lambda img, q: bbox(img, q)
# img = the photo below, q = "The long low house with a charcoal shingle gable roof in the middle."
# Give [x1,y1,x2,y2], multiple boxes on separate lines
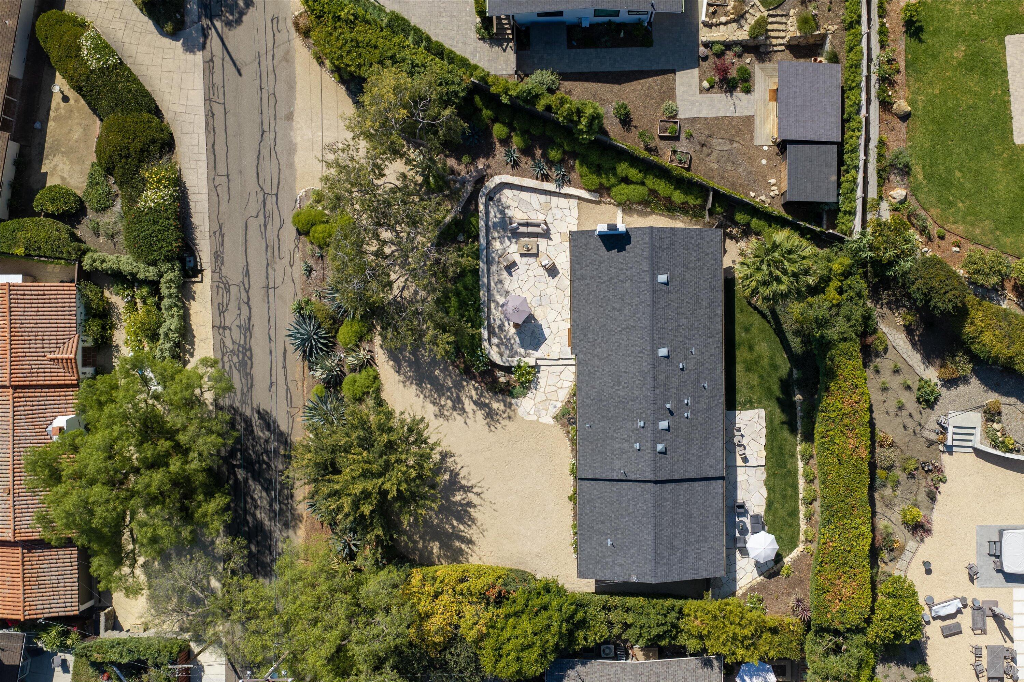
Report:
[568,222,726,585]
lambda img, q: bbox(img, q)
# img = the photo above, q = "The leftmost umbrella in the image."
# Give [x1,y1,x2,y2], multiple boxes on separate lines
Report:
[500,293,531,325]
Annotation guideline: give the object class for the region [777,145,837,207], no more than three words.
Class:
shed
